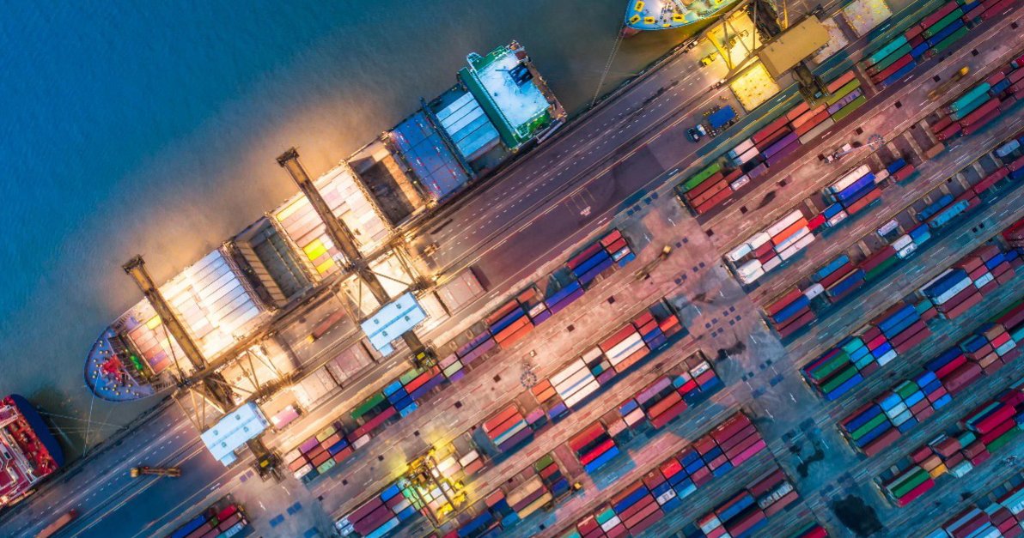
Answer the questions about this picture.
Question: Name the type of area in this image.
port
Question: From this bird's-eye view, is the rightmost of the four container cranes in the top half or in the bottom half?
top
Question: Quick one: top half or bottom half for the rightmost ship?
top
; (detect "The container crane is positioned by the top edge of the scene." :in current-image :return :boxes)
[683,0,831,112]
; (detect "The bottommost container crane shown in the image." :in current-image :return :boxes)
[408,440,475,525]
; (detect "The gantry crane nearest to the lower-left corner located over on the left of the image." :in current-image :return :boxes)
[117,248,304,479]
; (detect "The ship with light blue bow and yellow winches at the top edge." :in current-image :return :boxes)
[615,0,736,67]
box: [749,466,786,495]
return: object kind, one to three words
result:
shipping container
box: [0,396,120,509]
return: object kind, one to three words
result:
ship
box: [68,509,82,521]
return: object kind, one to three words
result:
vehicle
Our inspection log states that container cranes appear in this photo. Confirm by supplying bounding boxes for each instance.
[408,440,475,525]
[683,0,831,112]
[117,248,304,479]
[273,142,442,374]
